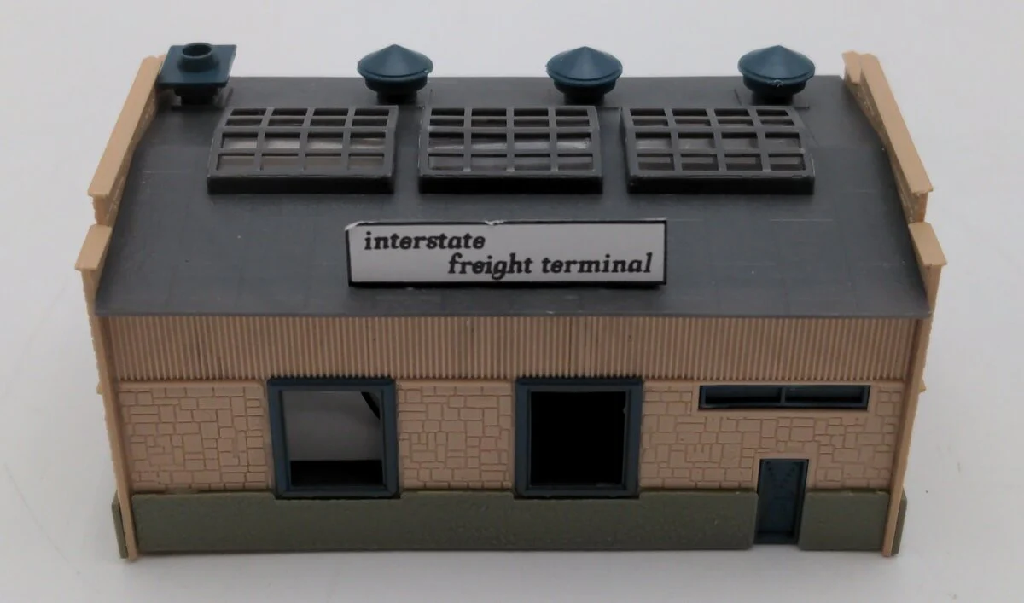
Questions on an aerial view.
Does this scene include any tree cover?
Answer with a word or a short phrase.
No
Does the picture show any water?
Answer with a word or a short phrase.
No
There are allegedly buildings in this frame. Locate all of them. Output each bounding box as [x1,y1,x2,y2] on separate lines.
[76,43,945,559]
